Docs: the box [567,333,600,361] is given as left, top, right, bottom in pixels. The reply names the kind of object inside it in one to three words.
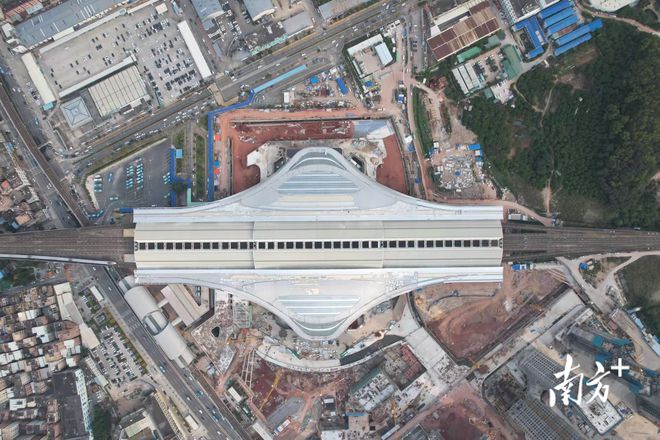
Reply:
shed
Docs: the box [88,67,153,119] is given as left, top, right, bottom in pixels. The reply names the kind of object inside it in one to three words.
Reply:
building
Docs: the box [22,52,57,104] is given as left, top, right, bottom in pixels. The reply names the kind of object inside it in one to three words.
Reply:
shed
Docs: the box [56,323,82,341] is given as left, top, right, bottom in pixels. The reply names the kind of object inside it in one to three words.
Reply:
house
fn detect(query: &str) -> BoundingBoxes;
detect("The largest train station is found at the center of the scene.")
[135,148,503,340]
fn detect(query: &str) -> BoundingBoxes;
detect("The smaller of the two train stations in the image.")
[119,274,195,368]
